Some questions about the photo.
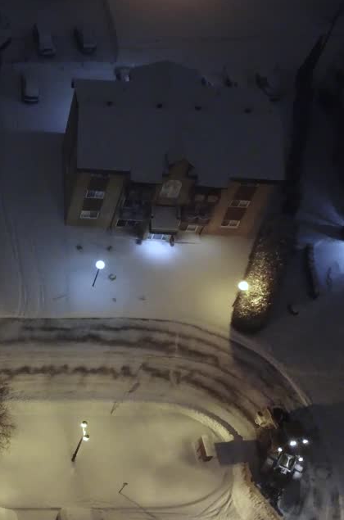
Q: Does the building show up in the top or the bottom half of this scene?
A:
top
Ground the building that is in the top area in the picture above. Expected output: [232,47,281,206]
[64,59,285,250]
